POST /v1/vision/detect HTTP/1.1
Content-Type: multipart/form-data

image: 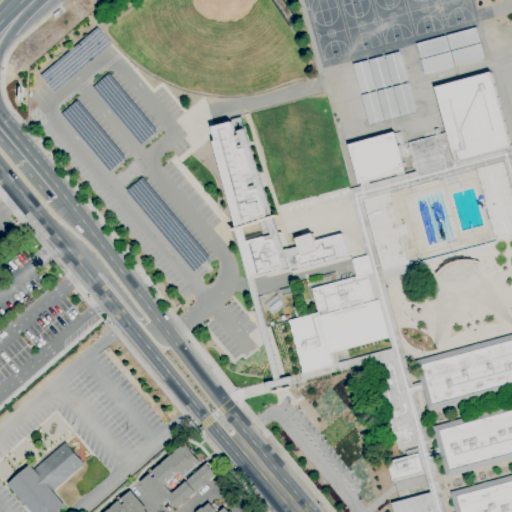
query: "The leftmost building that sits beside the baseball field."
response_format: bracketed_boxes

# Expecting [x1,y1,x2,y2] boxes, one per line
[218,118,266,222]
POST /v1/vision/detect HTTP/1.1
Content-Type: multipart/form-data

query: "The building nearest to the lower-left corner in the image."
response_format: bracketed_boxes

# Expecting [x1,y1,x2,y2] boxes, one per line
[7,444,82,512]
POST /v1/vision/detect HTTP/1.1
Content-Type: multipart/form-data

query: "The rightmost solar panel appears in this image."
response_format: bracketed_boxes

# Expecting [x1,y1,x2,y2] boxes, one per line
[130,177,208,270]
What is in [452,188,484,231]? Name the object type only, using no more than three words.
swimming pool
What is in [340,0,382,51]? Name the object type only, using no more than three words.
basketball court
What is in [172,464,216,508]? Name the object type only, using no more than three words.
building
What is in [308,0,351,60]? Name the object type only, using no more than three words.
basketball court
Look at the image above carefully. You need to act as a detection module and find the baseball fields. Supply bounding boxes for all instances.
[110,0,308,95]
